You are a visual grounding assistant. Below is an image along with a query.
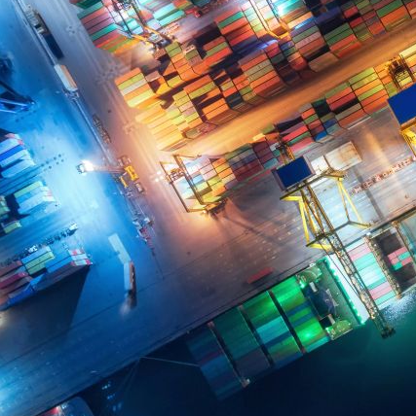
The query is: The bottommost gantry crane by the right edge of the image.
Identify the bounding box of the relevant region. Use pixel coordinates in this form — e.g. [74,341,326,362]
[267,136,399,340]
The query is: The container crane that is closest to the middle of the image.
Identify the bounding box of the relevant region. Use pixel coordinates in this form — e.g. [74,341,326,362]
[156,150,226,215]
